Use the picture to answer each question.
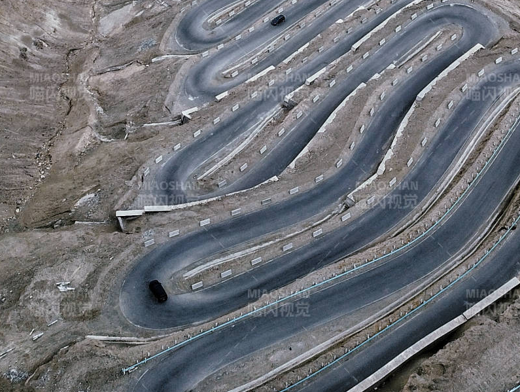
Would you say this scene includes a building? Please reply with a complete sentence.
No, there's no building here.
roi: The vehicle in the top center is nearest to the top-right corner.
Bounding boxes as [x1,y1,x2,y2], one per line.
[270,14,286,27]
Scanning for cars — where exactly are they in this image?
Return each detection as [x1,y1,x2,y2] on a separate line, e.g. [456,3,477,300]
[270,14,286,27]
[150,277,166,304]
